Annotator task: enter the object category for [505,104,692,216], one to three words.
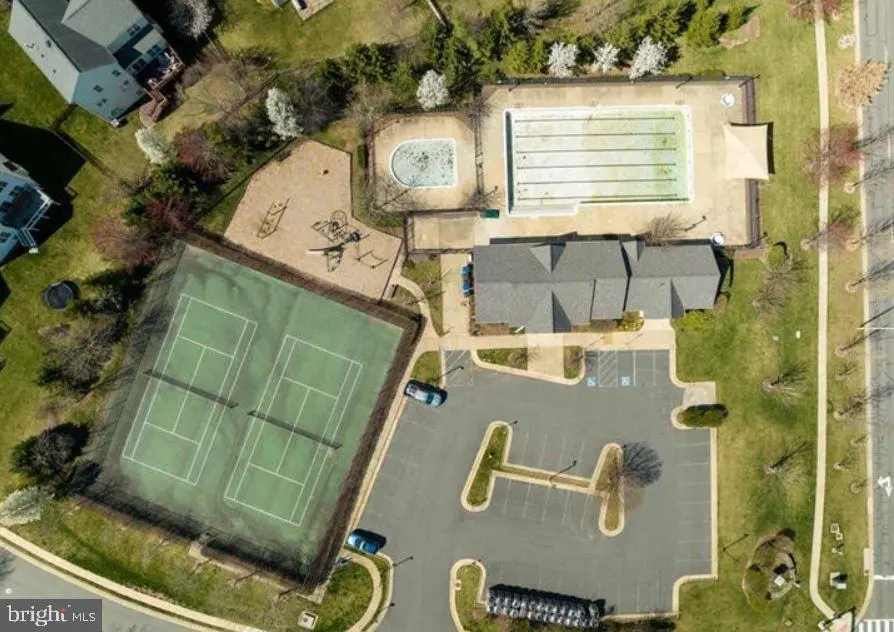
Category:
swimming pool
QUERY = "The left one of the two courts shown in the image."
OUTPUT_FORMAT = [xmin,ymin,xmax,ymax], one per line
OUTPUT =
[77,244,296,541]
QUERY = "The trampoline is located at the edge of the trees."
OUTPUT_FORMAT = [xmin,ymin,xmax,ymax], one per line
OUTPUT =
[43,284,73,310]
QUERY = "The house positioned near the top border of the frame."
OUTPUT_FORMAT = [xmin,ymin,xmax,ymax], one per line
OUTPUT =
[4,0,192,127]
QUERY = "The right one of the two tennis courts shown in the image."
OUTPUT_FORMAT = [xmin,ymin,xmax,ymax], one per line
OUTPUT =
[190,286,405,590]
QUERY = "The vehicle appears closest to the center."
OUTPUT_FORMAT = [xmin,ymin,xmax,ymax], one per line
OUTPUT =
[406,385,442,405]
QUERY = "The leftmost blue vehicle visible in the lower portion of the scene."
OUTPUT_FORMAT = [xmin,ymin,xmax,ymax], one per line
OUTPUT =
[347,534,379,556]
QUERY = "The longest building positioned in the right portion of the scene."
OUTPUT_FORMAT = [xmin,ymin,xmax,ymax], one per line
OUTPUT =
[472,242,720,333]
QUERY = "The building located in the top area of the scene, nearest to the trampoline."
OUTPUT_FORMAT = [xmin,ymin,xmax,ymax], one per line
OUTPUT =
[0,150,63,268]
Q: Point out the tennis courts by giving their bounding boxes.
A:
[77,244,296,541]
[190,286,405,590]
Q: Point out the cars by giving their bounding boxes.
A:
[406,385,442,405]
[347,534,379,556]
